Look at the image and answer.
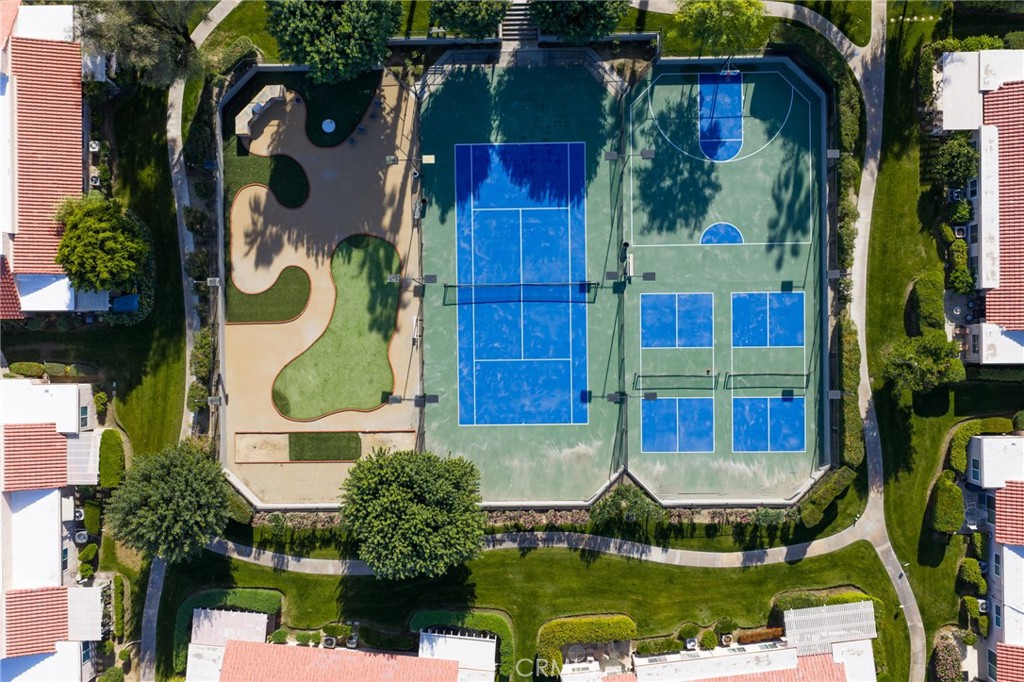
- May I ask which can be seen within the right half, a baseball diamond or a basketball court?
basketball court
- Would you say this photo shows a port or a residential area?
residential area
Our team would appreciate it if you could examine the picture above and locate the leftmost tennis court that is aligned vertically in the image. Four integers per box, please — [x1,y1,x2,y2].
[419,66,623,501]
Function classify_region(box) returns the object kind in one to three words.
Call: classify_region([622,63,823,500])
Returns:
basketball court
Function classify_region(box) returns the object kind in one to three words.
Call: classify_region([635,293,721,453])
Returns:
sports court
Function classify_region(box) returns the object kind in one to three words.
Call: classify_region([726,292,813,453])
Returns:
sports court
